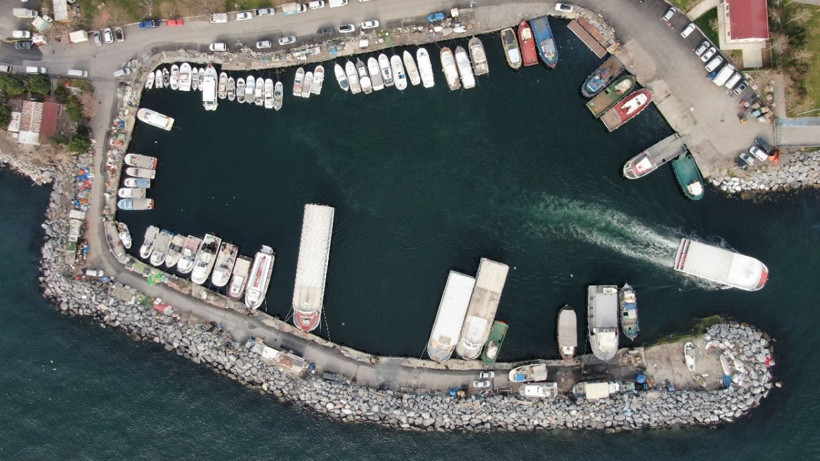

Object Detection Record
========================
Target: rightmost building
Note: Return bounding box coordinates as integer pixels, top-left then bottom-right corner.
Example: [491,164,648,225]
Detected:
[718,0,769,50]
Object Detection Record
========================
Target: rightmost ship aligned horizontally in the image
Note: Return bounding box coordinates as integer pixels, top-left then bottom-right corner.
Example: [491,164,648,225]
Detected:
[672,239,770,287]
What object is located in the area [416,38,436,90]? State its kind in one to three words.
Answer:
boat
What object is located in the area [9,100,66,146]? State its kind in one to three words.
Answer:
house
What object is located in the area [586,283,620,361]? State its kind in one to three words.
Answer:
ship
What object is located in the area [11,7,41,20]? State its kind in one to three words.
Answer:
vehicle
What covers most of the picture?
water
